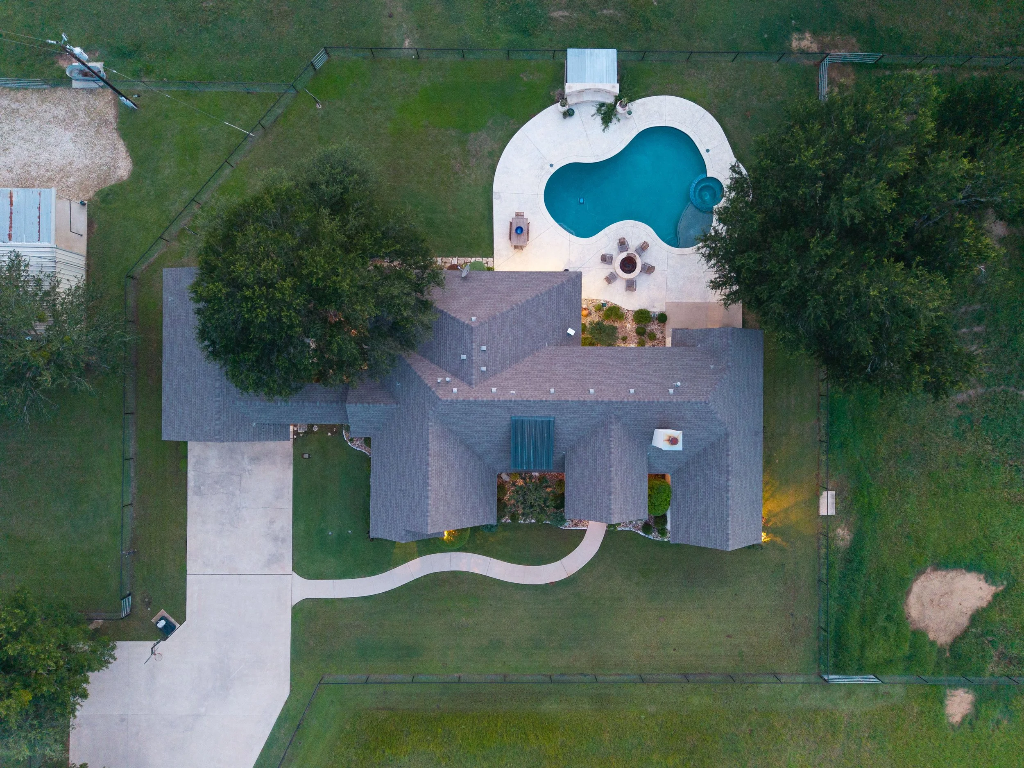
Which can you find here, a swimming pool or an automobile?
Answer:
swimming pool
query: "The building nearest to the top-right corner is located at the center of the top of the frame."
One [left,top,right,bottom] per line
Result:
[563,49,619,107]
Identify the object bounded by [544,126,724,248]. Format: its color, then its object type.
blue swimming pool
